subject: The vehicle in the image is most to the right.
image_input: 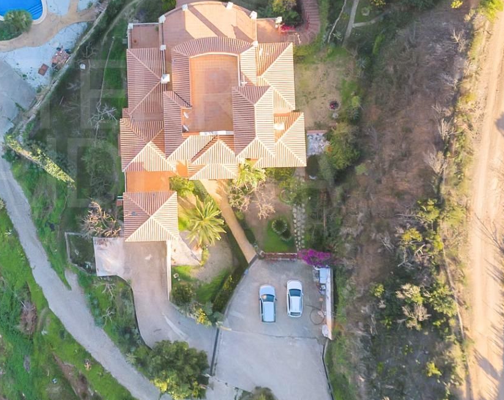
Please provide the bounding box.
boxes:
[287,281,305,320]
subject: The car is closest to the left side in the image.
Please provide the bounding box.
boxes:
[259,285,278,324]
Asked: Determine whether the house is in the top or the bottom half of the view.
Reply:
top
